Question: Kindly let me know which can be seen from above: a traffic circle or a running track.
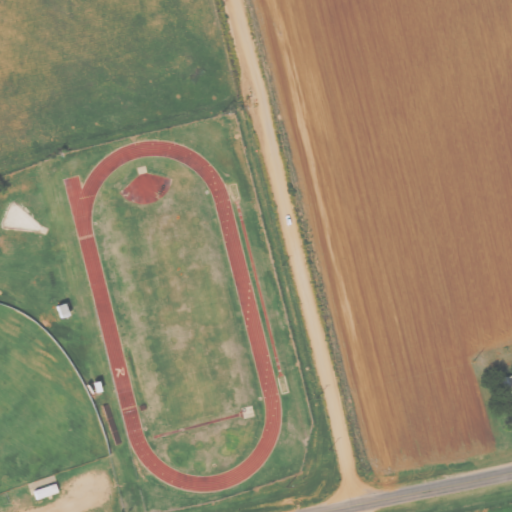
running track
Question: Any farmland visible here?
Yes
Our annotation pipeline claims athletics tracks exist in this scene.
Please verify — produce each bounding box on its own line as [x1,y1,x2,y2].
[64,141,282,492]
